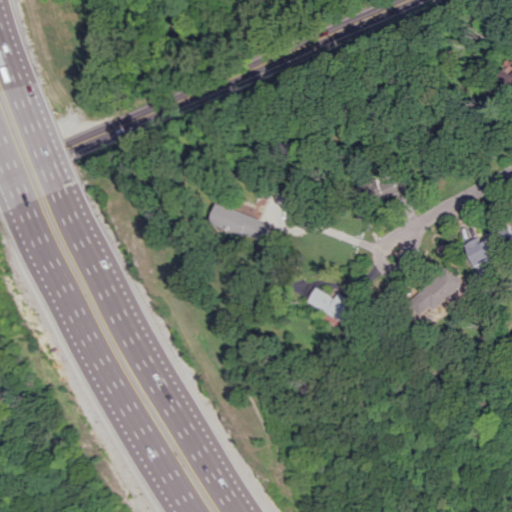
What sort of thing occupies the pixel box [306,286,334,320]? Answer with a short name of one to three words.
house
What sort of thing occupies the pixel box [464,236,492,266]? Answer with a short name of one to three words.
house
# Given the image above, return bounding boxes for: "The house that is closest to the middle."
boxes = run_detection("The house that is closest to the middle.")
[208,202,265,239]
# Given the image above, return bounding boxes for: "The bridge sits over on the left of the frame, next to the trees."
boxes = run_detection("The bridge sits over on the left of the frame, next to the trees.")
[0,82,86,214]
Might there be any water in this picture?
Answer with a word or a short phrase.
No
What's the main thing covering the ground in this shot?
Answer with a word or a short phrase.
trees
